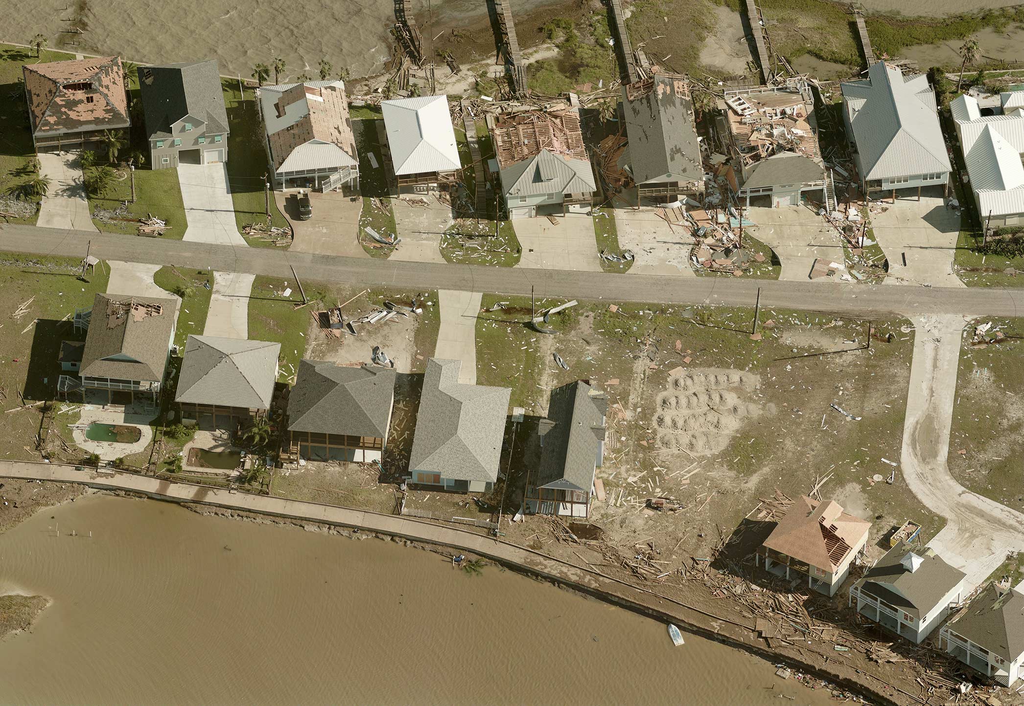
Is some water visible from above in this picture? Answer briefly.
Yes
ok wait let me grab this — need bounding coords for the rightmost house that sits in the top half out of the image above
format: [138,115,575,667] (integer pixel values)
[950,90,1024,228]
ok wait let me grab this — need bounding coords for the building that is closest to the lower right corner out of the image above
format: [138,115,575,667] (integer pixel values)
[946,581,1024,685]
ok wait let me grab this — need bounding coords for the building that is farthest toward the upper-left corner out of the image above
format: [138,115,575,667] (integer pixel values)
[22,55,132,157]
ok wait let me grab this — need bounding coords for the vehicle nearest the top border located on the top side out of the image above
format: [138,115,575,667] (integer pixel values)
[297,186,313,217]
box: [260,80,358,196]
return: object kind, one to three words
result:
house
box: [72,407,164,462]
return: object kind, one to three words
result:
swimming pool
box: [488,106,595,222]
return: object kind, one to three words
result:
house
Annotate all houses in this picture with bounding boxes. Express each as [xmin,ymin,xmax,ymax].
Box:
[277,357,397,468]
[725,82,839,211]
[764,495,871,596]
[840,62,953,204]
[58,293,178,411]
[381,95,462,199]
[950,90,1024,228]
[621,80,704,209]
[260,80,358,196]
[22,55,132,157]
[525,375,609,520]
[854,540,965,643]
[174,335,282,443]
[946,581,1024,685]
[405,358,512,497]
[138,59,229,168]
[488,106,595,222]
